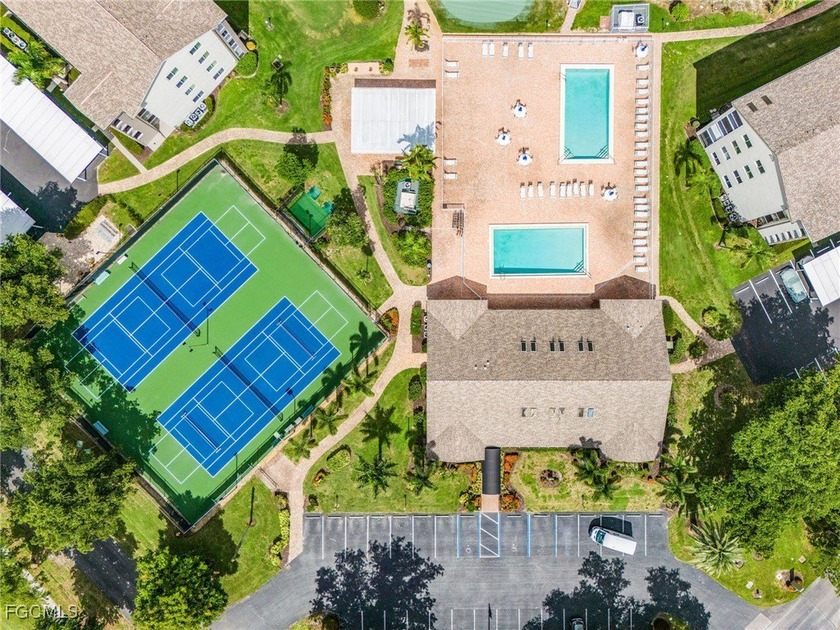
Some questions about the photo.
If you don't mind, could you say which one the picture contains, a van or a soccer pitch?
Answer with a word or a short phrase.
van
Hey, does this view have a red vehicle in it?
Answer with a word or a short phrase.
No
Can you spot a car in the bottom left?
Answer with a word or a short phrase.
No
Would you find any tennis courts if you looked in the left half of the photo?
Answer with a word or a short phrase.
Yes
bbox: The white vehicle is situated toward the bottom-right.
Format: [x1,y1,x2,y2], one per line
[589,527,641,559]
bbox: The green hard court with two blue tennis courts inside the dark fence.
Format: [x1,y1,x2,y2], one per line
[25,158,387,532]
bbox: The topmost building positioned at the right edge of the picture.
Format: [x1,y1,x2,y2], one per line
[696,47,840,246]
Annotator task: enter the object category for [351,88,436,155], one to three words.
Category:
building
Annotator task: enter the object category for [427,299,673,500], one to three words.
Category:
building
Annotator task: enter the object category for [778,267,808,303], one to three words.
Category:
car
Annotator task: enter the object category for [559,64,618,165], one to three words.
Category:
swimming pool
